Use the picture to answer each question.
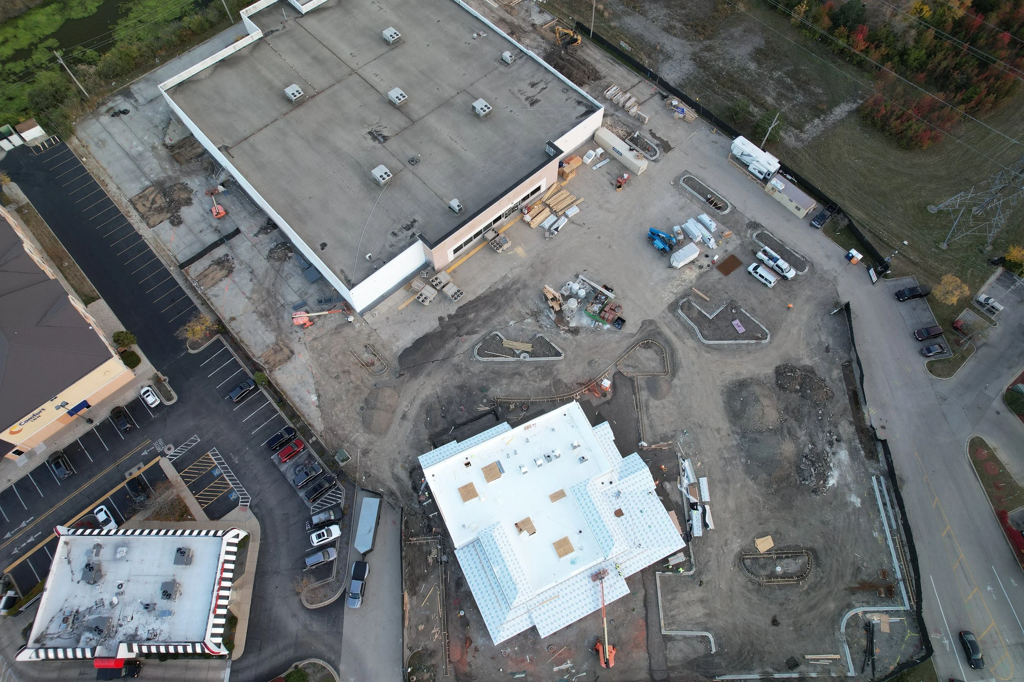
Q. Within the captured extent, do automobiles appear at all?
Yes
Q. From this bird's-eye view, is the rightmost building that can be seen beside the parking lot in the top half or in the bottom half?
bottom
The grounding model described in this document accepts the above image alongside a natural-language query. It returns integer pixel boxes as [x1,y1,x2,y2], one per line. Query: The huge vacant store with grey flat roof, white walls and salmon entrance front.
[159,0,604,311]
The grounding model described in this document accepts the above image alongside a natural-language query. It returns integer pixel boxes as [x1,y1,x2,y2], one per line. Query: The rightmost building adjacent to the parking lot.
[418,400,686,646]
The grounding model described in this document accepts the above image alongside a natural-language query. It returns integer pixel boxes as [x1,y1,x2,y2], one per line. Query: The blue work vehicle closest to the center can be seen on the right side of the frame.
[646,232,679,255]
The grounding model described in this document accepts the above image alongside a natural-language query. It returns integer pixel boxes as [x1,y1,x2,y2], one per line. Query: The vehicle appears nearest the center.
[541,285,566,313]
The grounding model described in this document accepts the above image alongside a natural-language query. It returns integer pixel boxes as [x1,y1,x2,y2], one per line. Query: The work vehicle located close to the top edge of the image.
[552,19,589,47]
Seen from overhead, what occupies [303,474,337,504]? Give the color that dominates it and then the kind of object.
black car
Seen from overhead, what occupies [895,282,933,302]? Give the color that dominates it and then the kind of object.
black vehicle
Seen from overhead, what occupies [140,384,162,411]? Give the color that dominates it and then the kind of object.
white car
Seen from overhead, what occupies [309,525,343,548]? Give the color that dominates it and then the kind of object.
white car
